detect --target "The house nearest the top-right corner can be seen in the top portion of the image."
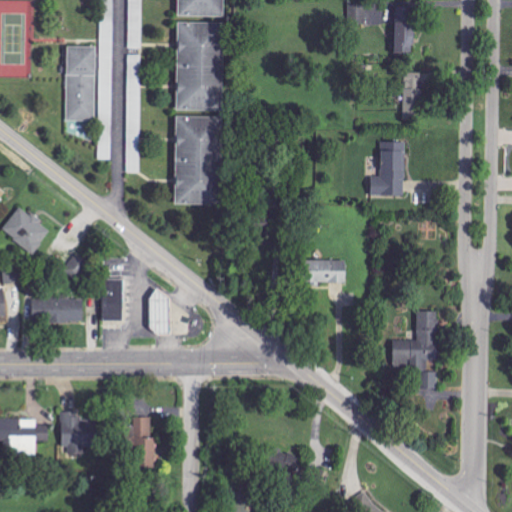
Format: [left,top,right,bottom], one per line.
[394,12,414,54]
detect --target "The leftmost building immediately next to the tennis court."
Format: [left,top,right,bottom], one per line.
[65,45,96,122]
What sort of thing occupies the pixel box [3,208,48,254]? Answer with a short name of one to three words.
house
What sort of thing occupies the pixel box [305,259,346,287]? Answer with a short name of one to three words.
house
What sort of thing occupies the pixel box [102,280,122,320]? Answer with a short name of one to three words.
building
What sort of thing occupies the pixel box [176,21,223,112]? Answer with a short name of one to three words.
building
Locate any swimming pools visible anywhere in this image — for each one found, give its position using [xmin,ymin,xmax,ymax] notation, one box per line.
[64,121,96,144]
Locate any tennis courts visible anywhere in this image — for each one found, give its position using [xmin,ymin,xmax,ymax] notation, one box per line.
[0,1,32,77]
